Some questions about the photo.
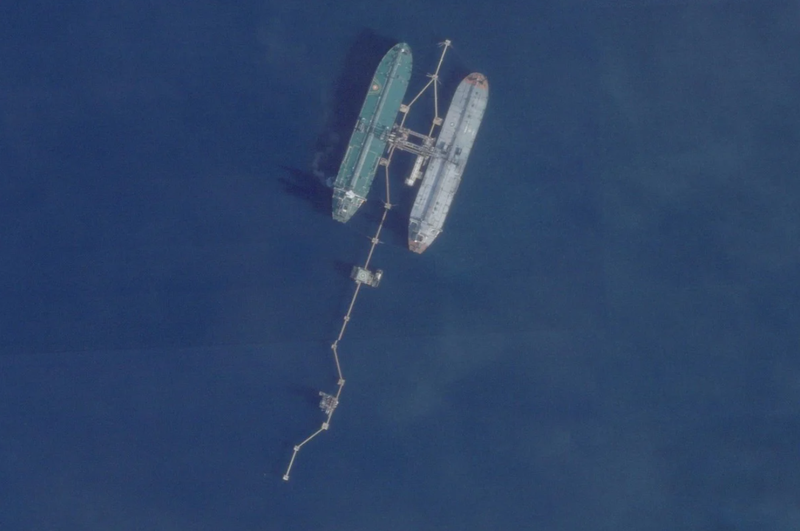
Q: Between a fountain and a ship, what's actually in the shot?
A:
ship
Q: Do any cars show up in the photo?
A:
No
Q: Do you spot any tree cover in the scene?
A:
No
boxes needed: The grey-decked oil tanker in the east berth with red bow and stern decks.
[409,73,489,254]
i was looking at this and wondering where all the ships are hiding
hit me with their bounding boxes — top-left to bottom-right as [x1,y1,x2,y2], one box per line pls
[409,73,489,254]
[334,42,412,221]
